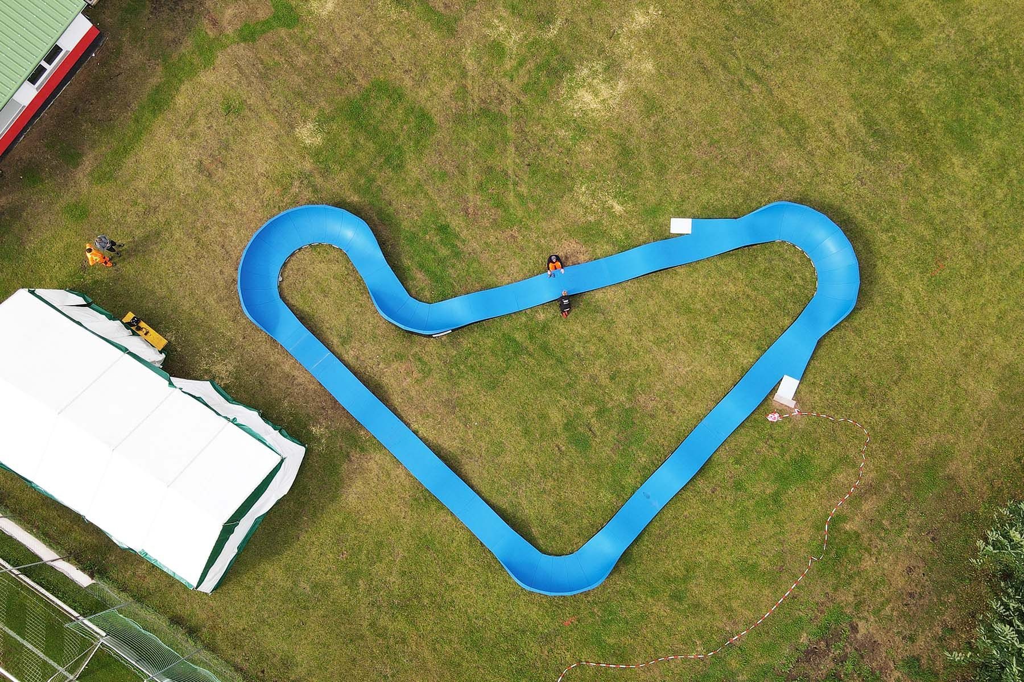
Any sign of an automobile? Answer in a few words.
No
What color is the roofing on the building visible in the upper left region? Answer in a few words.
green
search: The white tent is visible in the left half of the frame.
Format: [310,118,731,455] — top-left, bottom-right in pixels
[0,287,307,595]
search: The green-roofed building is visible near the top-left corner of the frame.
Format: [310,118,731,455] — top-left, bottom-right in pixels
[0,0,100,154]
